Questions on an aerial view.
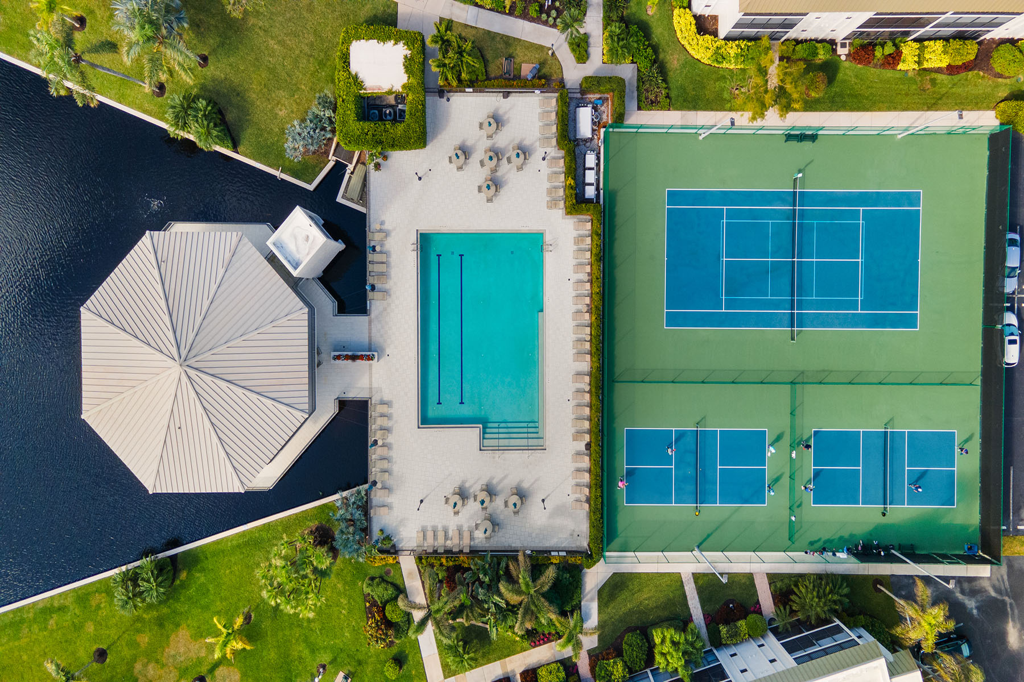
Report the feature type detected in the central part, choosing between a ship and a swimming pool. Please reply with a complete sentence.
Looking in the central part, you will find a swimming pool.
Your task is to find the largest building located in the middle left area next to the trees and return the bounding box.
[80,222,370,495]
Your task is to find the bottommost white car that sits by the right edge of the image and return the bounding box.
[1006,311,1022,368]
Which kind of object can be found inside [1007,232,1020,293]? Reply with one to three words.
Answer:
vehicle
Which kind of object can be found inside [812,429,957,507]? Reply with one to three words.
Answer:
sports court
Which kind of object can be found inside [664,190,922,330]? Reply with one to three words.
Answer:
tennis court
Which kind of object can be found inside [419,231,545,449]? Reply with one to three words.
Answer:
swimming pool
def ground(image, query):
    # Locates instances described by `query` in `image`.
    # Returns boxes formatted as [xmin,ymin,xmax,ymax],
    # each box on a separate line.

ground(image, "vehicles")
[1006,311,1022,368]
[916,633,972,670]
[1007,232,1020,293]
